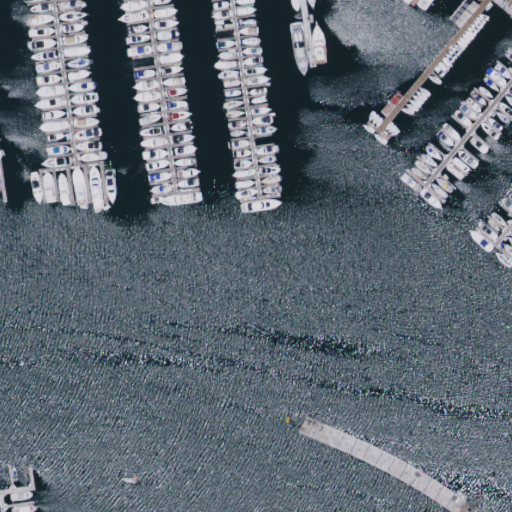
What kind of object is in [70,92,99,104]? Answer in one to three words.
boat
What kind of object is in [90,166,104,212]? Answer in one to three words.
boat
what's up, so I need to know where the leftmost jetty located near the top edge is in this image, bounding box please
[30,0,108,204]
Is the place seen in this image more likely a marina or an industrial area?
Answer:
marina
